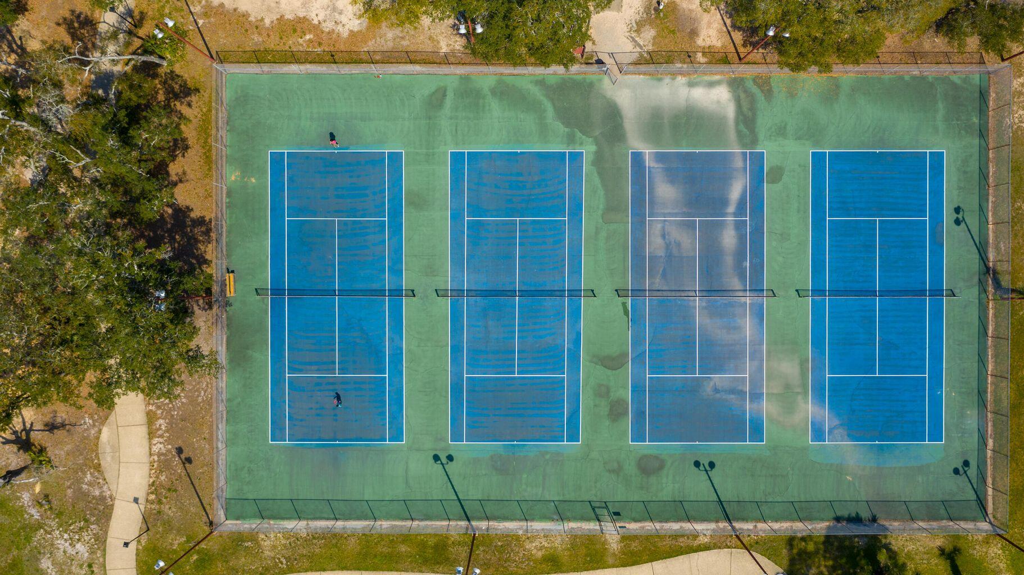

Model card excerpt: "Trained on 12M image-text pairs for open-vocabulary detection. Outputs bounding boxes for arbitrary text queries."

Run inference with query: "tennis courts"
[630,150,766,444]
[810,150,946,443]
[269,150,405,443]
[449,150,585,444]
